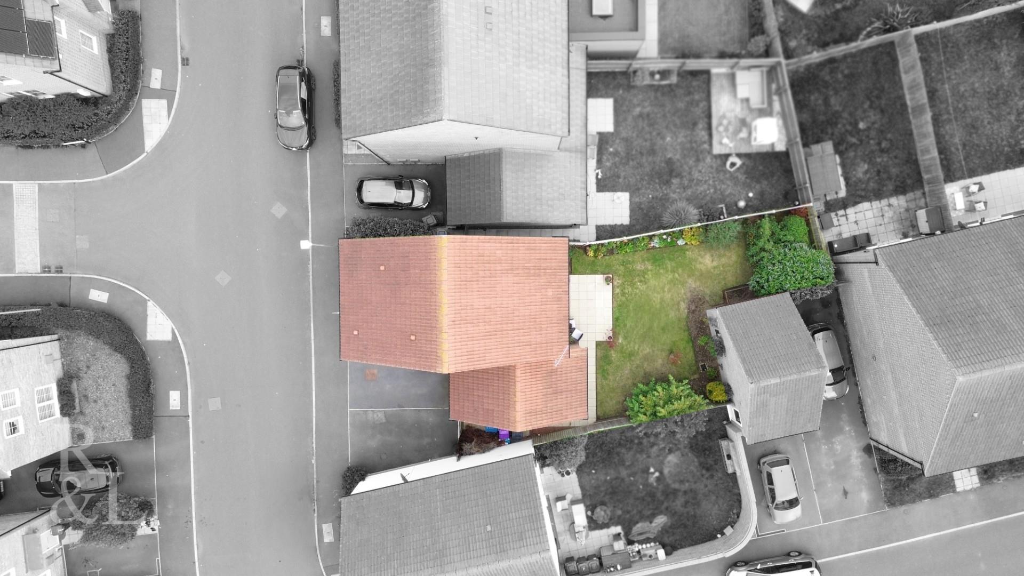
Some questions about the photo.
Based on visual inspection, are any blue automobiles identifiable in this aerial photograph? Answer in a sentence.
No, there appears to be no blue automobile in this shot.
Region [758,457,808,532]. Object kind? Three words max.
car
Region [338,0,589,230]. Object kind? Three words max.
house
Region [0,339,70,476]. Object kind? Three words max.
house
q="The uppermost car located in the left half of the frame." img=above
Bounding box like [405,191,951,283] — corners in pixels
[269,63,314,148]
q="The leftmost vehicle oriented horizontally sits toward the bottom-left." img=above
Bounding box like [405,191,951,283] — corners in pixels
[32,457,122,504]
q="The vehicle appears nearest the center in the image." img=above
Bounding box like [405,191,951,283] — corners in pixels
[353,171,430,212]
